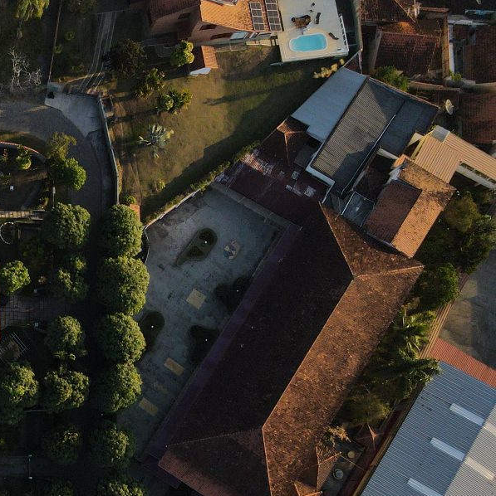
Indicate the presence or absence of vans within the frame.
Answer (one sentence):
No, there's no van here.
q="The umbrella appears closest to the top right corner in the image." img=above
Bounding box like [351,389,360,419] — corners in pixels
[299,9,316,23]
